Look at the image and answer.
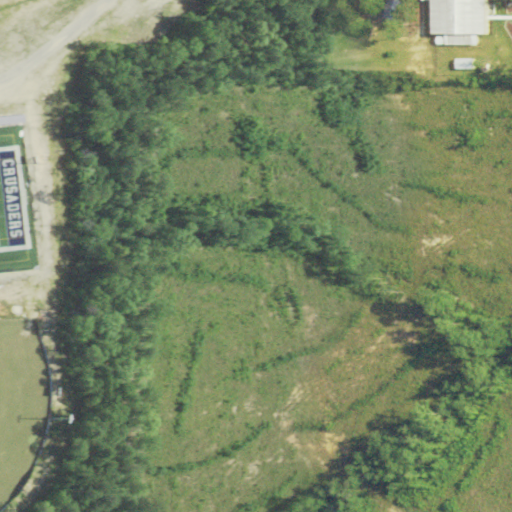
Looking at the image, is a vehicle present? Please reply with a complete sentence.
No, I find no vehicle anywhere in the image.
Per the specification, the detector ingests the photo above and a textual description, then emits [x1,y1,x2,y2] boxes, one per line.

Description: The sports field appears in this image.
[0,126,38,274]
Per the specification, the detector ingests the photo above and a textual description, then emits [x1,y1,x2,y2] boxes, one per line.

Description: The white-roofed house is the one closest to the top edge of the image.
[420,0,490,45]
